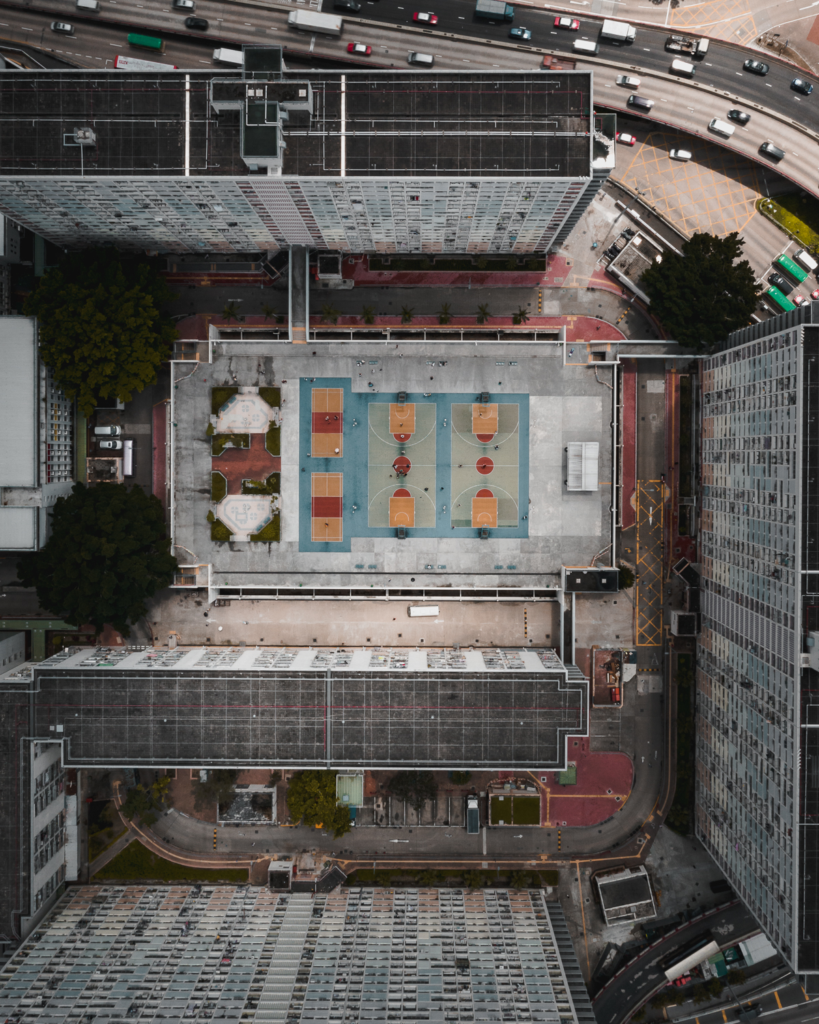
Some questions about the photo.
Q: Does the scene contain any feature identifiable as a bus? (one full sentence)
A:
Yes, the image includes a bus.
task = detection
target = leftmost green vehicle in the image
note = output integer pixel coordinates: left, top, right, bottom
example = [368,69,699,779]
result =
[128,34,164,53]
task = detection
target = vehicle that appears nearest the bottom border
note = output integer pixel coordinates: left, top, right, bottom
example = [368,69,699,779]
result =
[737,1002,761,1020]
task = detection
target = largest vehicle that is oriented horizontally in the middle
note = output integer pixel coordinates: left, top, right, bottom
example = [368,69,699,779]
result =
[406,604,439,617]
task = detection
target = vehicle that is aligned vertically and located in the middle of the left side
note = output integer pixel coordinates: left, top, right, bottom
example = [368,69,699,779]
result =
[122,437,136,478]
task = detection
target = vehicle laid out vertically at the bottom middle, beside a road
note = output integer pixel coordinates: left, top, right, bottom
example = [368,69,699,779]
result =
[467,795,480,837]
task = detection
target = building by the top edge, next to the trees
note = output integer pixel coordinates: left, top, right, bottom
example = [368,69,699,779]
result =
[0,46,614,252]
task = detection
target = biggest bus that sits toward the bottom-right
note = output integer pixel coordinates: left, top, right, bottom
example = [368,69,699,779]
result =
[659,933,718,981]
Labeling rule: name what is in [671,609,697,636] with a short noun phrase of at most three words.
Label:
shed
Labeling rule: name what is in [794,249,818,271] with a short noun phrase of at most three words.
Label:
vehicle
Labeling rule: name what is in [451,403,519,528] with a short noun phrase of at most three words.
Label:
basketball court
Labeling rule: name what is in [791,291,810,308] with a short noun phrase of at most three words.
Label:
car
